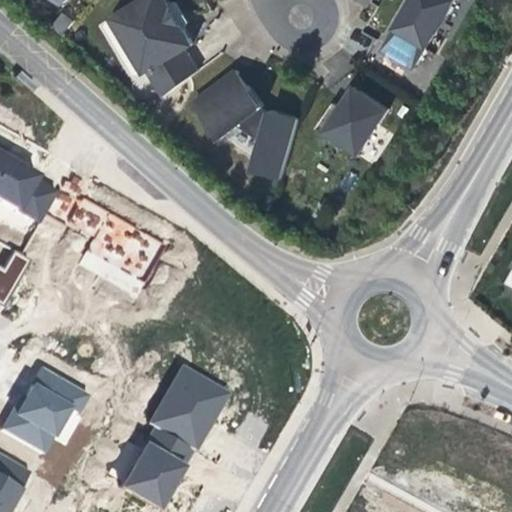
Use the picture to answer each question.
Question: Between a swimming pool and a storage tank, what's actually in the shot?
swimming pool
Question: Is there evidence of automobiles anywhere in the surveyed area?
Yes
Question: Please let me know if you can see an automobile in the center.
No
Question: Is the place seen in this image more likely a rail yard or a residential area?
residential area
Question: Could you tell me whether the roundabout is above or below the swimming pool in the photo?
below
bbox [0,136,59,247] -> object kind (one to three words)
house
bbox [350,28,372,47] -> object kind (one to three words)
car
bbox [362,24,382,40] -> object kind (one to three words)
car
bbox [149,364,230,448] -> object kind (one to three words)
house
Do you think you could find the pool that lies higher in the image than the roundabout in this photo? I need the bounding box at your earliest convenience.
[380,35,418,76]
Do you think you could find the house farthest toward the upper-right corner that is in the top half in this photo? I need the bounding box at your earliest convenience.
[388,0,451,62]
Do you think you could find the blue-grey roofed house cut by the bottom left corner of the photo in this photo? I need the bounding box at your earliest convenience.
[0,452,31,508]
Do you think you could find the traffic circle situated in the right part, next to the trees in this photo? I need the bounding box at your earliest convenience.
[320,254,450,384]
